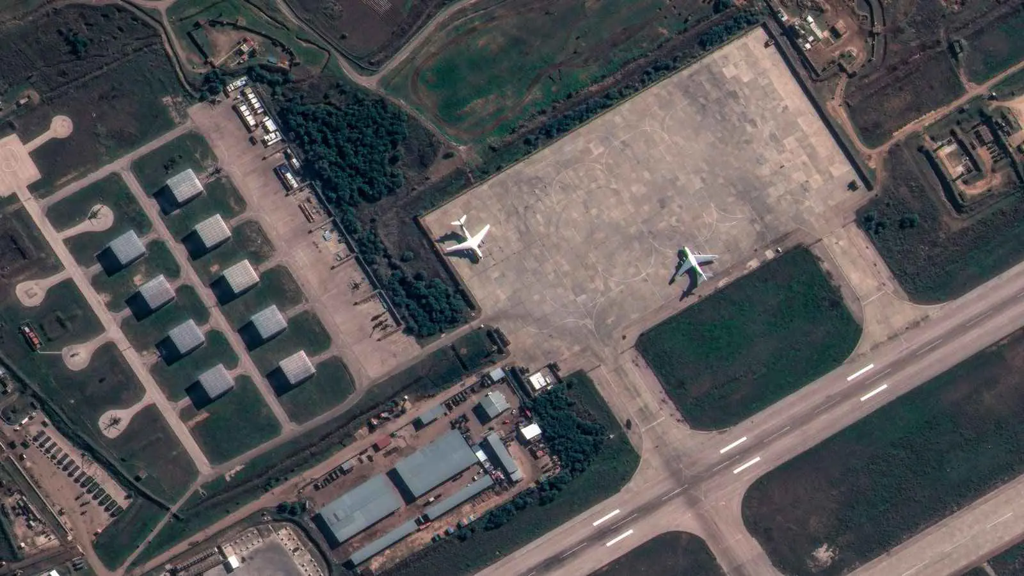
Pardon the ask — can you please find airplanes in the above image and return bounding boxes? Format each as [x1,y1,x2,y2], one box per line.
[674,246,718,280]
[448,218,490,259]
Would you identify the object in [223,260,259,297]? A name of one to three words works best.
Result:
hangar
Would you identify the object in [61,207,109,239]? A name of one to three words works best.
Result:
helipad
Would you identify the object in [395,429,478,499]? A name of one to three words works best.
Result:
building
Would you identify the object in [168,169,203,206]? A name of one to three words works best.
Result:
hangar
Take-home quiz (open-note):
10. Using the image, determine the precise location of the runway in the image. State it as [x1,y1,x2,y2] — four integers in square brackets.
[473,260,1024,576]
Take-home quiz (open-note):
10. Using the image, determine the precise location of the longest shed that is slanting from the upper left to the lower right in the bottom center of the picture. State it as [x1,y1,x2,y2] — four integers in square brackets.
[487,433,521,483]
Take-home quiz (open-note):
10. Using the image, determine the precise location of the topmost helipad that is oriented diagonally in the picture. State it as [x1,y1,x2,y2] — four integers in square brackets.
[25,118,72,154]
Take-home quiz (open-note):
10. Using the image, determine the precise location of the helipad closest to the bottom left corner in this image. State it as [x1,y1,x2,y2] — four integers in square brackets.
[100,395,156,433]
